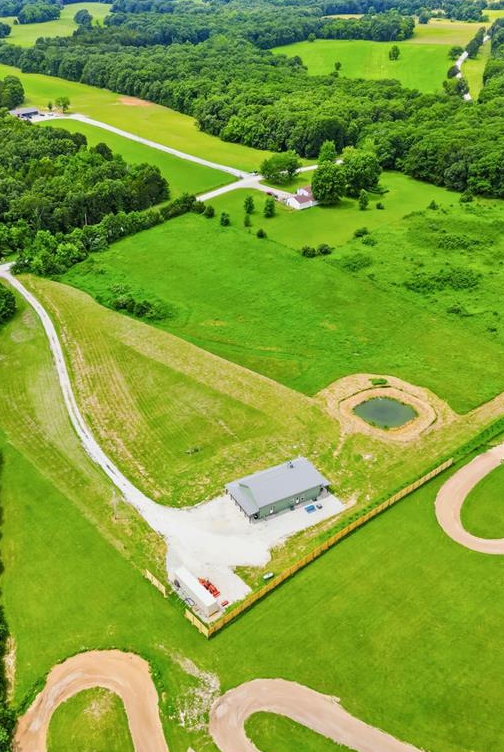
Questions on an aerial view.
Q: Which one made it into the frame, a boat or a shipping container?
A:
shipping container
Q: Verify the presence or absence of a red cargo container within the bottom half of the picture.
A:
No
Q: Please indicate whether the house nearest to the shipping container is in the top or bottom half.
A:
bottom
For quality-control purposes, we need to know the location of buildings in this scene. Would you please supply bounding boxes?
[6,106,39,118]
[286,187,314,210]
[224,458,330,524]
